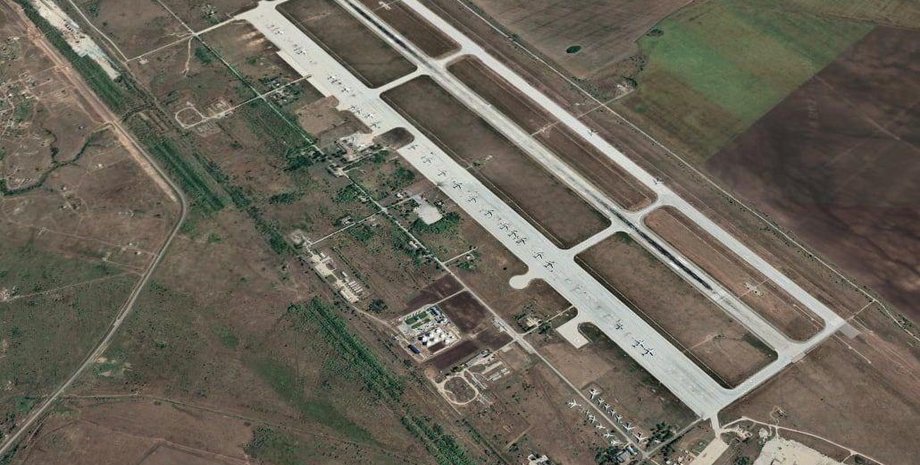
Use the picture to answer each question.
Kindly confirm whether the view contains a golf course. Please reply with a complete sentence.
No, this view has no golf course in it.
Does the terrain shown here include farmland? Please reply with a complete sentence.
Yes, farmland shows up in the scene.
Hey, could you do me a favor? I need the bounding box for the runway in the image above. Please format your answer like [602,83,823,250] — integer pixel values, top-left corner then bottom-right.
[336,0,788,349]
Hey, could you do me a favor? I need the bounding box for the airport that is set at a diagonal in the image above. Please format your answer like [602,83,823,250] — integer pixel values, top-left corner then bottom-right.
[236,0,861,426]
